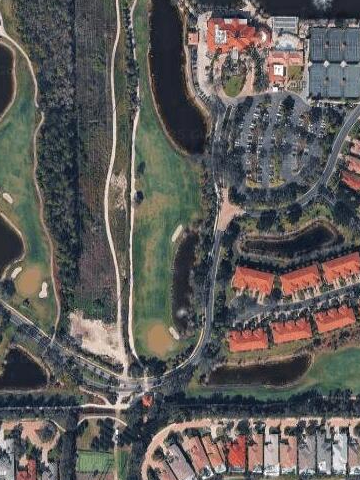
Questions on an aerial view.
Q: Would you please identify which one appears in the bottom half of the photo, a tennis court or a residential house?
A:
residential house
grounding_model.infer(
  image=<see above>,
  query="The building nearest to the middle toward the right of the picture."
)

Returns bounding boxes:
[232,267,274,297]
